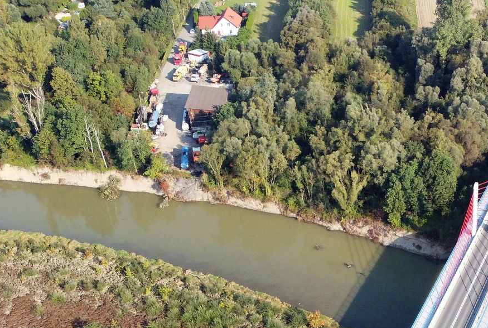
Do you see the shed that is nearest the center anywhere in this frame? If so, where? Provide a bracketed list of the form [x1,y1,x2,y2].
[182,90,228,121]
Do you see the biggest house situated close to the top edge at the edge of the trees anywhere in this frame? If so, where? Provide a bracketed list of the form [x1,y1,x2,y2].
[195,11,242,38]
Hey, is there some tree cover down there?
Yes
